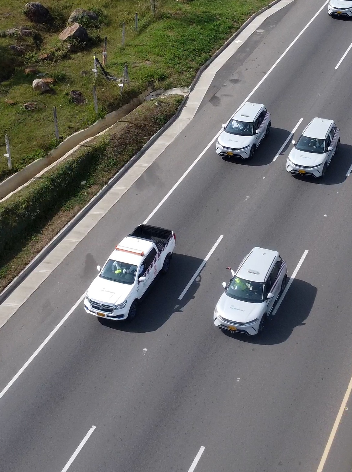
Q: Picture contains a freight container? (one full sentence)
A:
No, the photo shows no freight container.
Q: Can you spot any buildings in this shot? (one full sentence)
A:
No, I find no building anywhere in the image.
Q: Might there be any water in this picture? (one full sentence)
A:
No, the picture contains no water.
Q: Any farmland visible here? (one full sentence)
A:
No, there's no farmland in this view.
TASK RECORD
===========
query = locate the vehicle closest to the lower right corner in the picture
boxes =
[215,247,287,340]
